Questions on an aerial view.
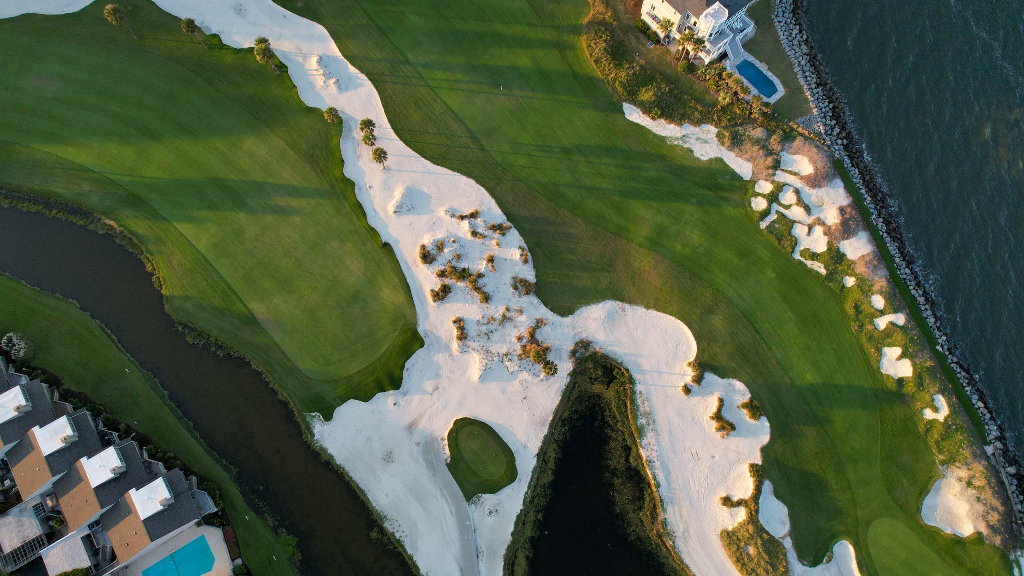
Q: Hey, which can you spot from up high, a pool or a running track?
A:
pool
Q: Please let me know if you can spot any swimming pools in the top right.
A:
Yes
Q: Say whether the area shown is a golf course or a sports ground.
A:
golf course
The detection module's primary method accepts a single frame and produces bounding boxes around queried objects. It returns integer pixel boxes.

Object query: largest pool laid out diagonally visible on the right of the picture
[722,50,784,102]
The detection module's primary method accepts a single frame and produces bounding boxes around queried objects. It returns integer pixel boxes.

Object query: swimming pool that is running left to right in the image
[119,527,237,576]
